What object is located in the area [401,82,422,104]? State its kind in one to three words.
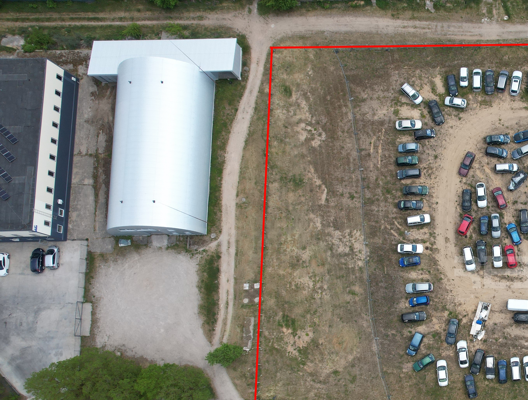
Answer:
car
